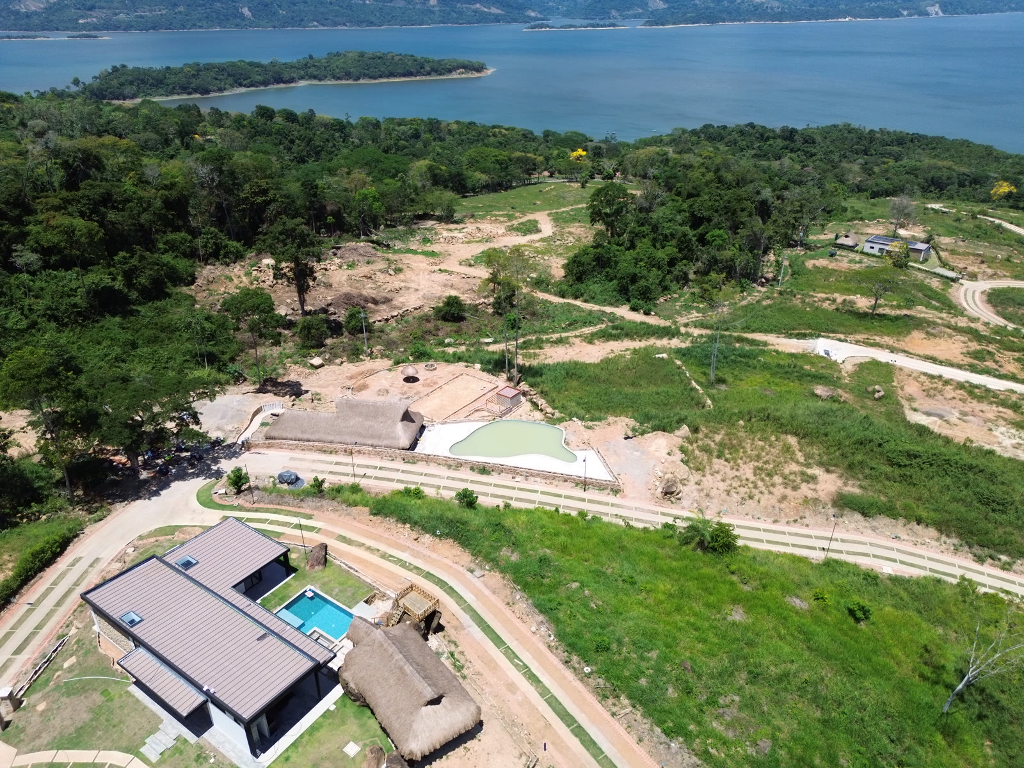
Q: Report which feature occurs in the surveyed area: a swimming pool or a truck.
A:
swimming pool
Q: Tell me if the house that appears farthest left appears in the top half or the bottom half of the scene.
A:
bottom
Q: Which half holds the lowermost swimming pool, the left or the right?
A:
left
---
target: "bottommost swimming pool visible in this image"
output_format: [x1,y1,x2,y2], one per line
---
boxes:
[271,581,361,645]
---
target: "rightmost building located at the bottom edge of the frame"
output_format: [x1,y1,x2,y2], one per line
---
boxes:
[341,605,485,767]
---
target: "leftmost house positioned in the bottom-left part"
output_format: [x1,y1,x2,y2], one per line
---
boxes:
[80,517,341,768]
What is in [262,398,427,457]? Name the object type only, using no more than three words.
building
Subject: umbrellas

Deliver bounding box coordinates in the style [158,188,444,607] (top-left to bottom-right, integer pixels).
[401,363,419,382]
